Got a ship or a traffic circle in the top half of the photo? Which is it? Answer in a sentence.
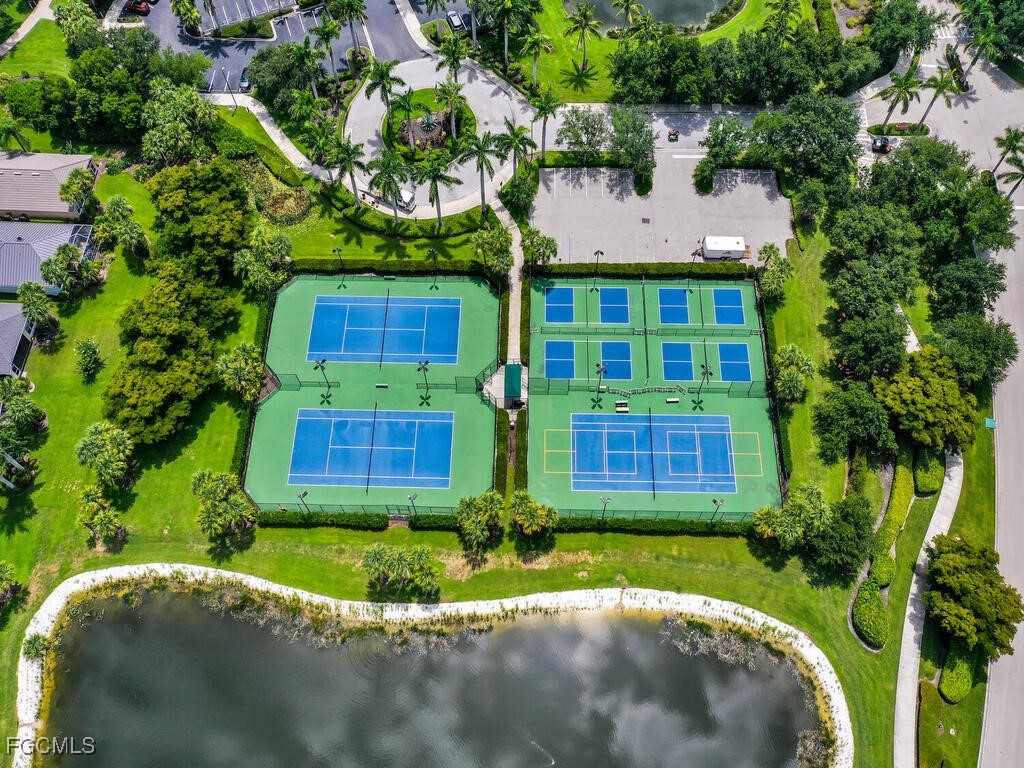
It is a traffic circle that can be seen in the top half of the photo.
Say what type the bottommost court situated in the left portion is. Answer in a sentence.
It turns out the bottommost court situated in the left portion is a tennis court.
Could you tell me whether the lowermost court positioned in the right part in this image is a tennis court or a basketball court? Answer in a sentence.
I'd say the lowermost court positioned in the right part is a tennis court.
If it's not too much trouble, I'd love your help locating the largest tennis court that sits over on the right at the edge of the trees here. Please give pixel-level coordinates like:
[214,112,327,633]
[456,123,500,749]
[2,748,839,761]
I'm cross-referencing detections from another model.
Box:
[528,391,781,515]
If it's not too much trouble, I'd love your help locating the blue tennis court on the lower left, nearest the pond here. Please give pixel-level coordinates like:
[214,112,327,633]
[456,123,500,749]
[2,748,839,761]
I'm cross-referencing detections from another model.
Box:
[244,387,495,515]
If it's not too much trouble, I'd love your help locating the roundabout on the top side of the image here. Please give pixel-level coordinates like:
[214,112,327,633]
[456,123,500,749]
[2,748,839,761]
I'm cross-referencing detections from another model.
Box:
[381,86,478,166]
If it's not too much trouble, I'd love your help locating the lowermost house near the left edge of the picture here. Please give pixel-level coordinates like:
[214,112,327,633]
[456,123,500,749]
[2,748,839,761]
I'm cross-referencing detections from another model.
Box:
[0,303,44,386]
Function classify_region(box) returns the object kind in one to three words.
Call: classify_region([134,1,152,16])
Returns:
car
